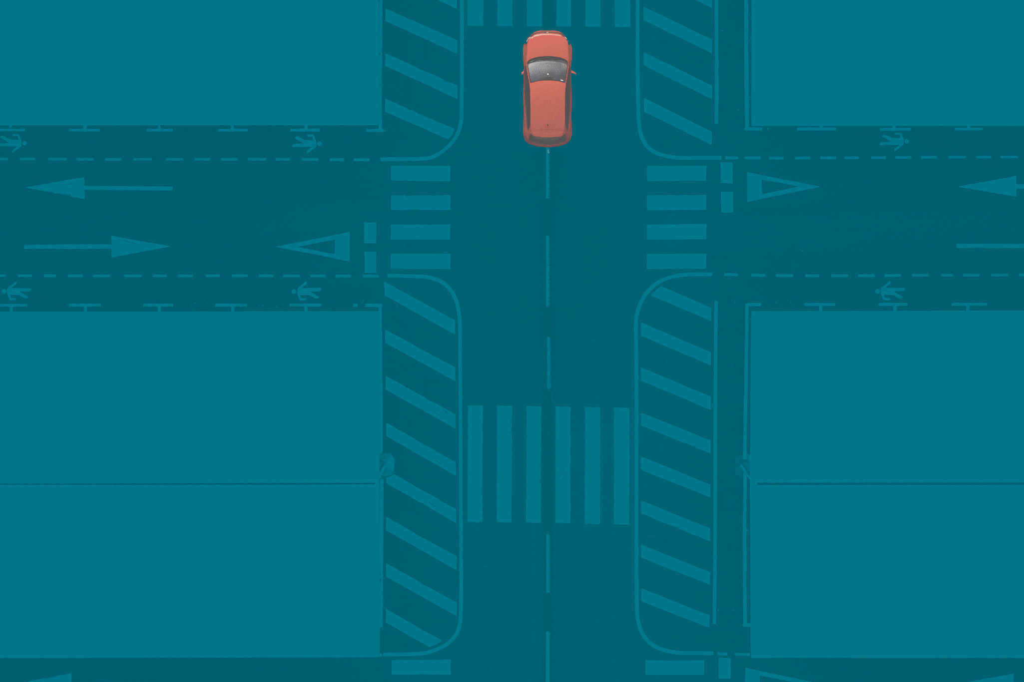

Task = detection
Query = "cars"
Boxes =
[521,30,577,147]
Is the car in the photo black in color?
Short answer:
No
